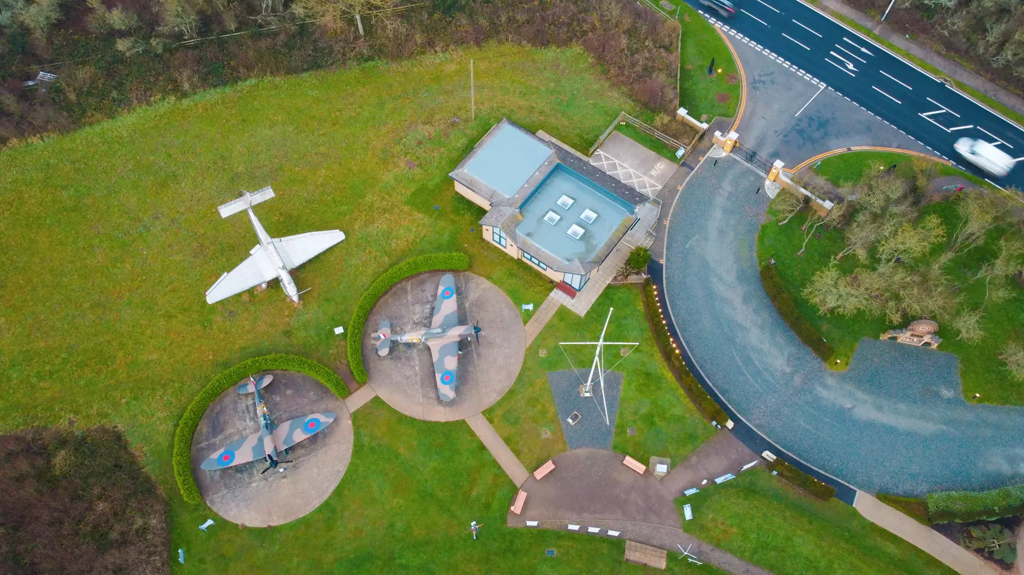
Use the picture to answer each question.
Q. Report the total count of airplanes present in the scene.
three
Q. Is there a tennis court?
No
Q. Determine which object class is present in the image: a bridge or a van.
van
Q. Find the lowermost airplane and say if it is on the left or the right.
left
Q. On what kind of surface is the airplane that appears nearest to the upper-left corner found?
grass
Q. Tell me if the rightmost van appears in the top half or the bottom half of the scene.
top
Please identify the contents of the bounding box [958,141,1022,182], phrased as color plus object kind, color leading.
white van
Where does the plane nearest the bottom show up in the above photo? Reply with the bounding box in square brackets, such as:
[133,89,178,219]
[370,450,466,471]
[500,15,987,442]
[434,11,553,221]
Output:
[200,374,335,475]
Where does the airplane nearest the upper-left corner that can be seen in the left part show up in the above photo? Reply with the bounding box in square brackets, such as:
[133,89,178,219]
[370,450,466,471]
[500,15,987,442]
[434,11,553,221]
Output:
[207,186,347,306]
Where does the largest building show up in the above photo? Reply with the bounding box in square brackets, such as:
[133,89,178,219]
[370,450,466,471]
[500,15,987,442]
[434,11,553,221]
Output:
[446,118,651,290]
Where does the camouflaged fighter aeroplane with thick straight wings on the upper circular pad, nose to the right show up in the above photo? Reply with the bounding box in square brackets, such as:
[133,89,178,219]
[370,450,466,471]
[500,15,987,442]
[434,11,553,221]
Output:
[371,273,481,400]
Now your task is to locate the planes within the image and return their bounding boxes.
[200,374,335,475]
[371,273,481,400]
[207,186,347,306]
